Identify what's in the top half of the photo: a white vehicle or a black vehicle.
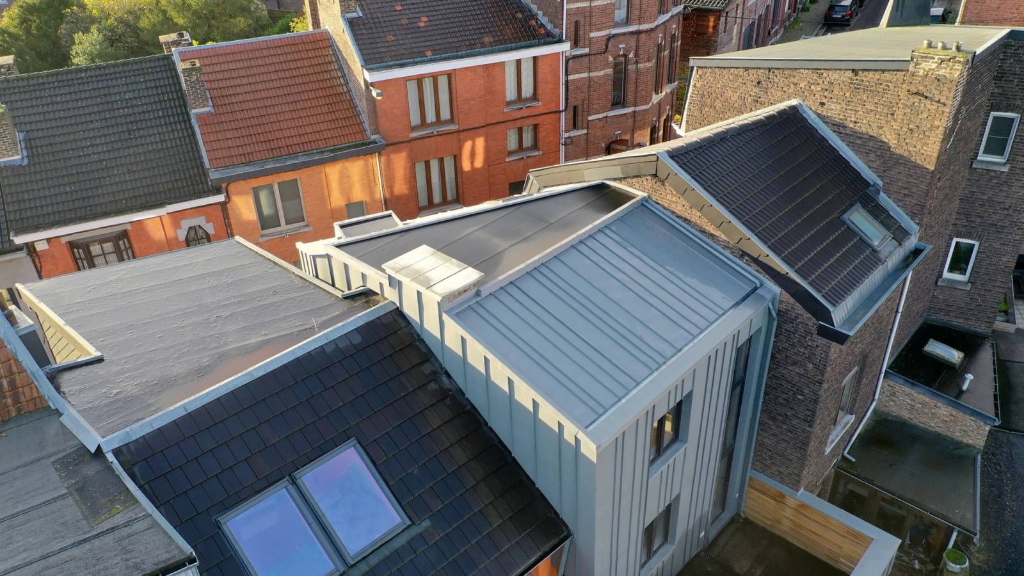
black vehicle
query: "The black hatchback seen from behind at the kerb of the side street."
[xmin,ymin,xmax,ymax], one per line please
[814,3,863,34]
